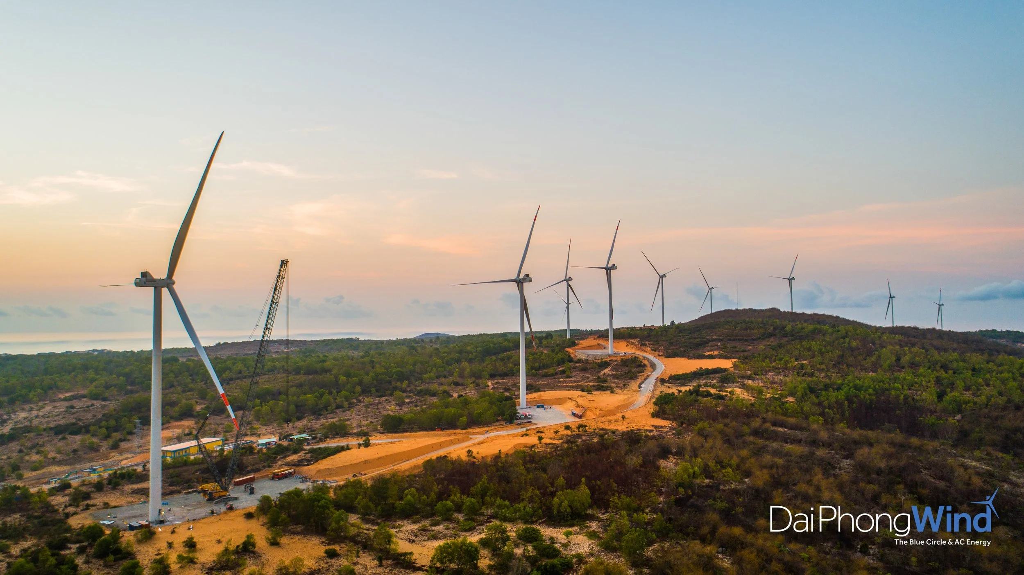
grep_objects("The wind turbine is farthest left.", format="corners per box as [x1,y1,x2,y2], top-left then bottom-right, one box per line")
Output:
[118,132,241,519]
